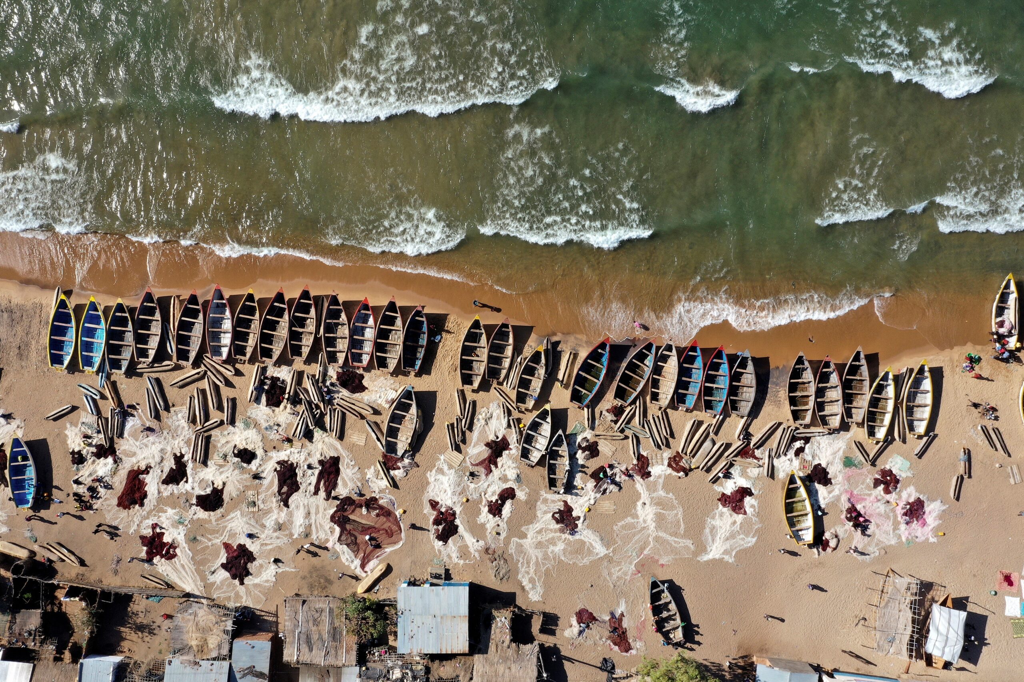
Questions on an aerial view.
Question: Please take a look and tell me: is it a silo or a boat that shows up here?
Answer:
boat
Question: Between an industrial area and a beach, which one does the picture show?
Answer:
beach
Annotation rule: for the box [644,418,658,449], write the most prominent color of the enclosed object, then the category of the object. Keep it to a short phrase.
gray boat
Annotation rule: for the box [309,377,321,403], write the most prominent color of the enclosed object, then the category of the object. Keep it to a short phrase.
gray boat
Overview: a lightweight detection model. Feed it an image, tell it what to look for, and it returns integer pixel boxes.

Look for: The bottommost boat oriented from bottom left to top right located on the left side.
[359,563,389,594]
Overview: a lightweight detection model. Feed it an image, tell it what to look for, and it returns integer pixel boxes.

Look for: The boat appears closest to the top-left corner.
[49,286,61,320]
